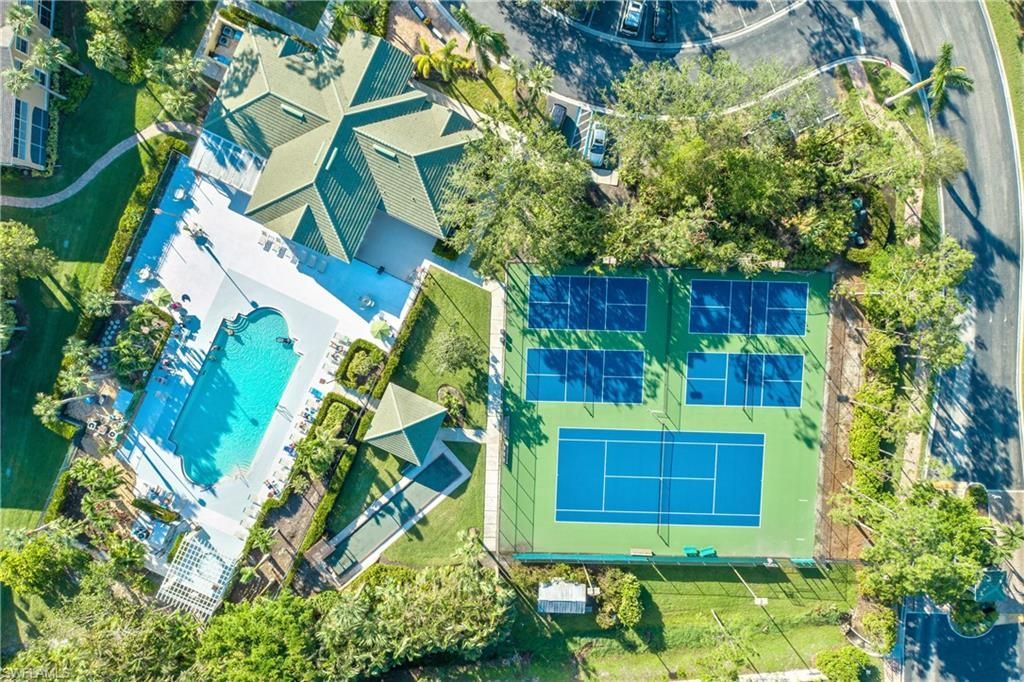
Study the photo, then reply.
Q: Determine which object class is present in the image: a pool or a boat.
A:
pool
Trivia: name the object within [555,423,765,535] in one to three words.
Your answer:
tennis court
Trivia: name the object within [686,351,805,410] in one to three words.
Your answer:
sports court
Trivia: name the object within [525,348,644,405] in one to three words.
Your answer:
sports court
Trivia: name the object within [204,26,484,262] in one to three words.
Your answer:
building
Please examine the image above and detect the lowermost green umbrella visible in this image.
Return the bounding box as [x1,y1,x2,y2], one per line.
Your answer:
[369,318,393,341]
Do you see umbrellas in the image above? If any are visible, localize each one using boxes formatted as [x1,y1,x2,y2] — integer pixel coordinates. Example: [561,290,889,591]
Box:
[151,285,175,308]
[369,318,393,341]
